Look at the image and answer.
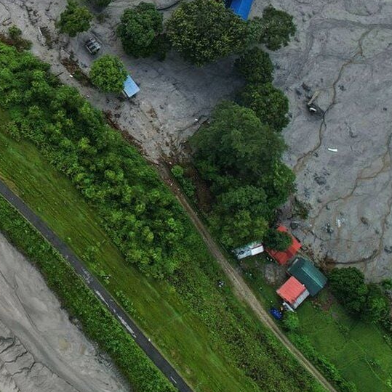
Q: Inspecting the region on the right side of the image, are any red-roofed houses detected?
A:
Yes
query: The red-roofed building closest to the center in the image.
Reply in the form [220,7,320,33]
[263,224,302,266]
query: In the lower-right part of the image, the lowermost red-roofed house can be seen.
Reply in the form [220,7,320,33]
[272,277,309,309]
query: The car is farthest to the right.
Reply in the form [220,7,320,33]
[307,103,323,117]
